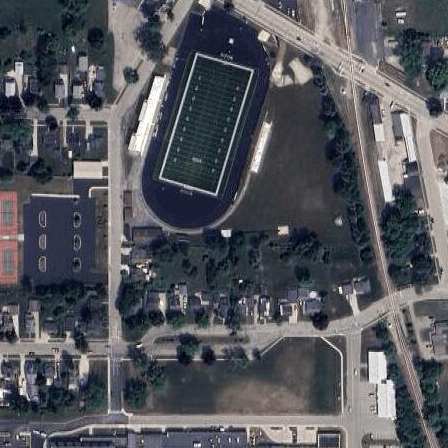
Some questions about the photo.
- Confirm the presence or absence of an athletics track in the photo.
Yes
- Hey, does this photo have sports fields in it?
Yes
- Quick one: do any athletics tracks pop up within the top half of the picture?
Yes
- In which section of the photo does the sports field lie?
top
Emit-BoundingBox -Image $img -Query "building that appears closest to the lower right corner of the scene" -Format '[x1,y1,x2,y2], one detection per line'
[378,381,396,419]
